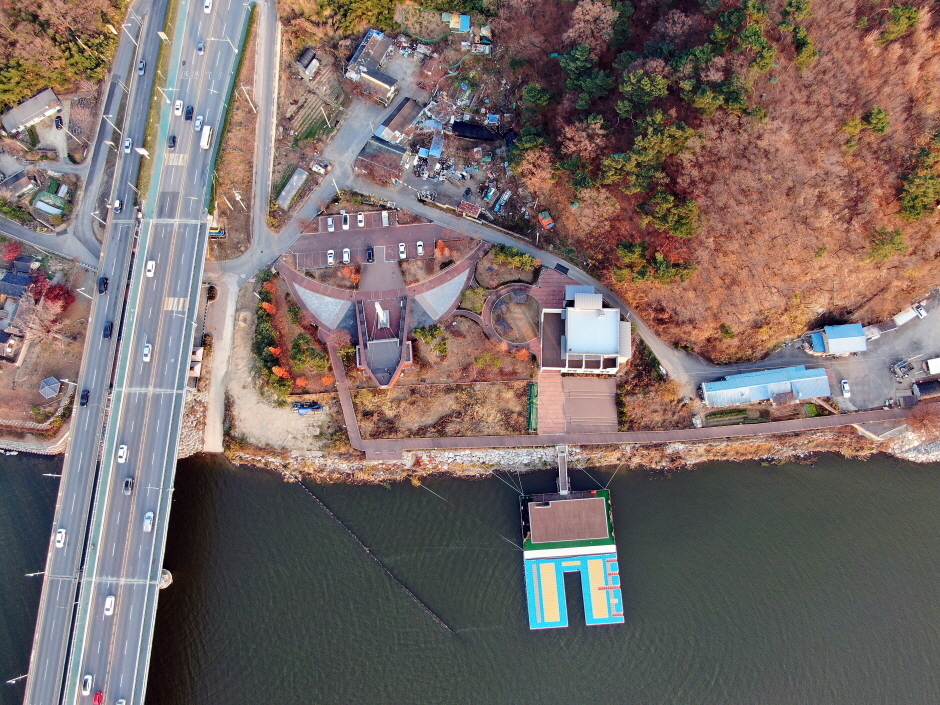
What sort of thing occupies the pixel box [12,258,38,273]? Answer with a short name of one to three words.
house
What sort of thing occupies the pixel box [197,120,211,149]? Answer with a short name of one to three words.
vehicle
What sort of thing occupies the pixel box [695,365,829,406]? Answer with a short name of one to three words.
building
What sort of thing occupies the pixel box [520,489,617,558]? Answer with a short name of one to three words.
pier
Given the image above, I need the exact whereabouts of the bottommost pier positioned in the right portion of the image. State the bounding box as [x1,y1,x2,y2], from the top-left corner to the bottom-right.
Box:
[525,554,624,630]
